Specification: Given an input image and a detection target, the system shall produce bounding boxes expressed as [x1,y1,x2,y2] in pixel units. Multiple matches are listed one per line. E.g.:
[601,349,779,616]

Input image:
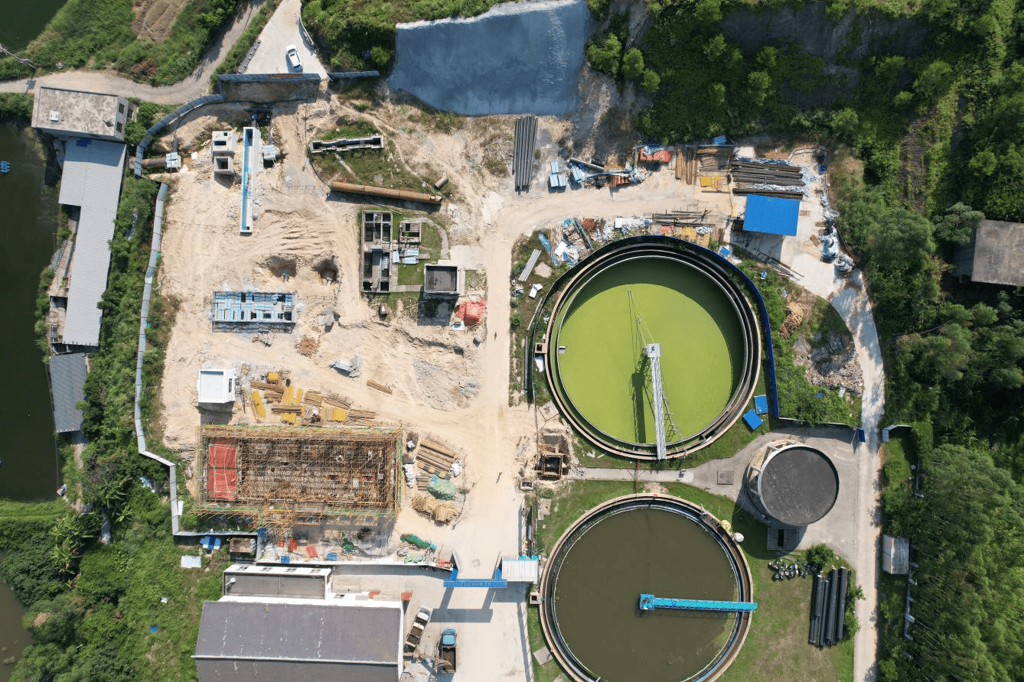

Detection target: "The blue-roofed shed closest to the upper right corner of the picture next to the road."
[735,194,800,240]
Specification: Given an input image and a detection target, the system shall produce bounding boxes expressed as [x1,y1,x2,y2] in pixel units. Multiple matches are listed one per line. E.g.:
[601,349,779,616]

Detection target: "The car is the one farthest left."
[284,42,302,72]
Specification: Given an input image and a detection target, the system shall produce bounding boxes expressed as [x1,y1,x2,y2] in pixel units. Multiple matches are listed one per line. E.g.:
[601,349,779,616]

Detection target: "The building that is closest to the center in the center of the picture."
[424,264,461,295]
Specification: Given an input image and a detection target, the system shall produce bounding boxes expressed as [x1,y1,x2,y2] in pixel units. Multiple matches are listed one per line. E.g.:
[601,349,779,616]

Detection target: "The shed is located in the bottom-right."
[874,529,908,574]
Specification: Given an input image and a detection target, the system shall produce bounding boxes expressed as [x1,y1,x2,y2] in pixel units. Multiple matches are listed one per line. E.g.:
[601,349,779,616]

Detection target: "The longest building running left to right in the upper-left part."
[30,86,144,148]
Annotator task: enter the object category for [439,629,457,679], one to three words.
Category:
vehicle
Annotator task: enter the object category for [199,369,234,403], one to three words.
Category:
building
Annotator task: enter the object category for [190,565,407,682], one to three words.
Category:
building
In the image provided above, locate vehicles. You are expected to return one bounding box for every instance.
[284,42,302,72]
[405,606,433,654]
[439,629,457,679]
